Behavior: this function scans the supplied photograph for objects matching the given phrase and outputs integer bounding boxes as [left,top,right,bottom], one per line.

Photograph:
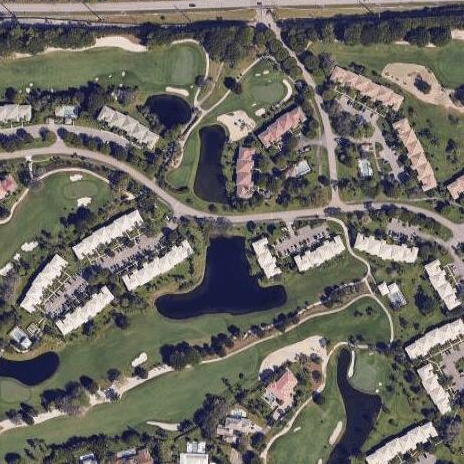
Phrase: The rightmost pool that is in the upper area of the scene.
[358,152,373,178]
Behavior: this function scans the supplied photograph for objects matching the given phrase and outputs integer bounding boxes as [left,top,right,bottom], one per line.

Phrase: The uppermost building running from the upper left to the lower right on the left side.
[97,105,159,149]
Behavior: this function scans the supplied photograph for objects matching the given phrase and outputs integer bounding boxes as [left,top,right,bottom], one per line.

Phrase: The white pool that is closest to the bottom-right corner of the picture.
[380,285,406,305]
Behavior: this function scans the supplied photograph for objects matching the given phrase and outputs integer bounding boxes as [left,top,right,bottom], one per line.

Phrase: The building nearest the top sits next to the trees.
[330,67,405,111]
